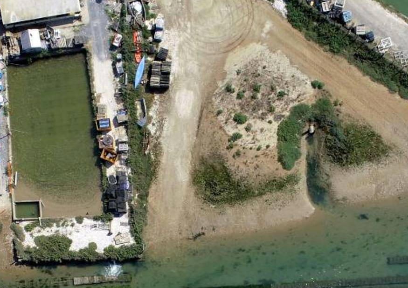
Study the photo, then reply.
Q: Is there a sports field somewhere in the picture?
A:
No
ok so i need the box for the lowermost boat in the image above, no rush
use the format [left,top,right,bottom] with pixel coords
[135,98,148,127]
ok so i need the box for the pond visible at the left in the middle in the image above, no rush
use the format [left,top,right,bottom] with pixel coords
[6,50,105,220]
